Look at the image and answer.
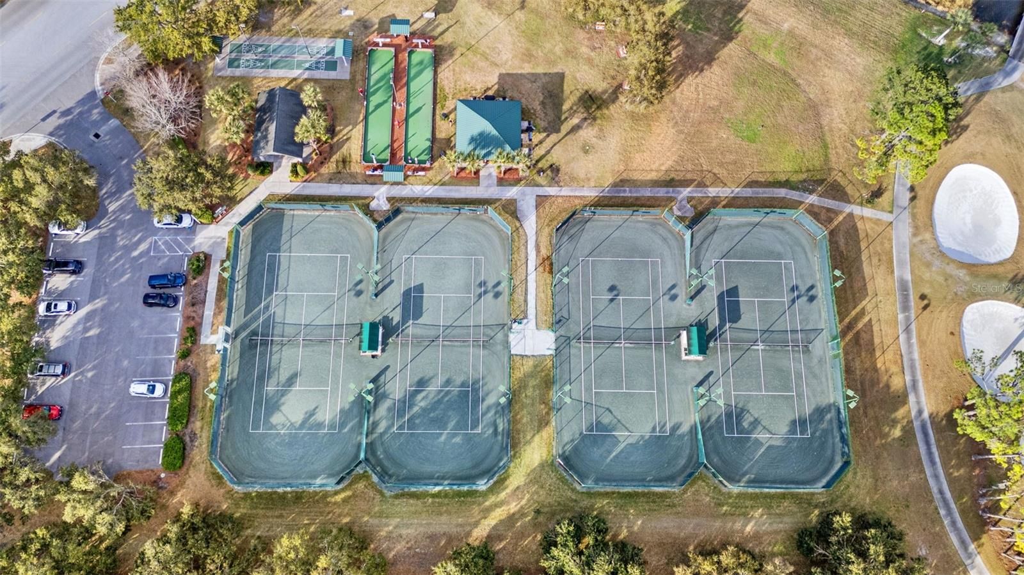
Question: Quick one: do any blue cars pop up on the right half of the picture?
No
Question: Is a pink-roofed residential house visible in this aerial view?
No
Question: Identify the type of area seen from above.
sports ground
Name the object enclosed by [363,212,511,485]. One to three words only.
tennis court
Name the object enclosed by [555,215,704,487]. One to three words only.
tennis court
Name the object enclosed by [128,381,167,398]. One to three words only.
car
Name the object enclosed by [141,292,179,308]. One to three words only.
car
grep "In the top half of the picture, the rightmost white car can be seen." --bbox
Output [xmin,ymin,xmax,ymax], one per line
[154,214,193,229]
